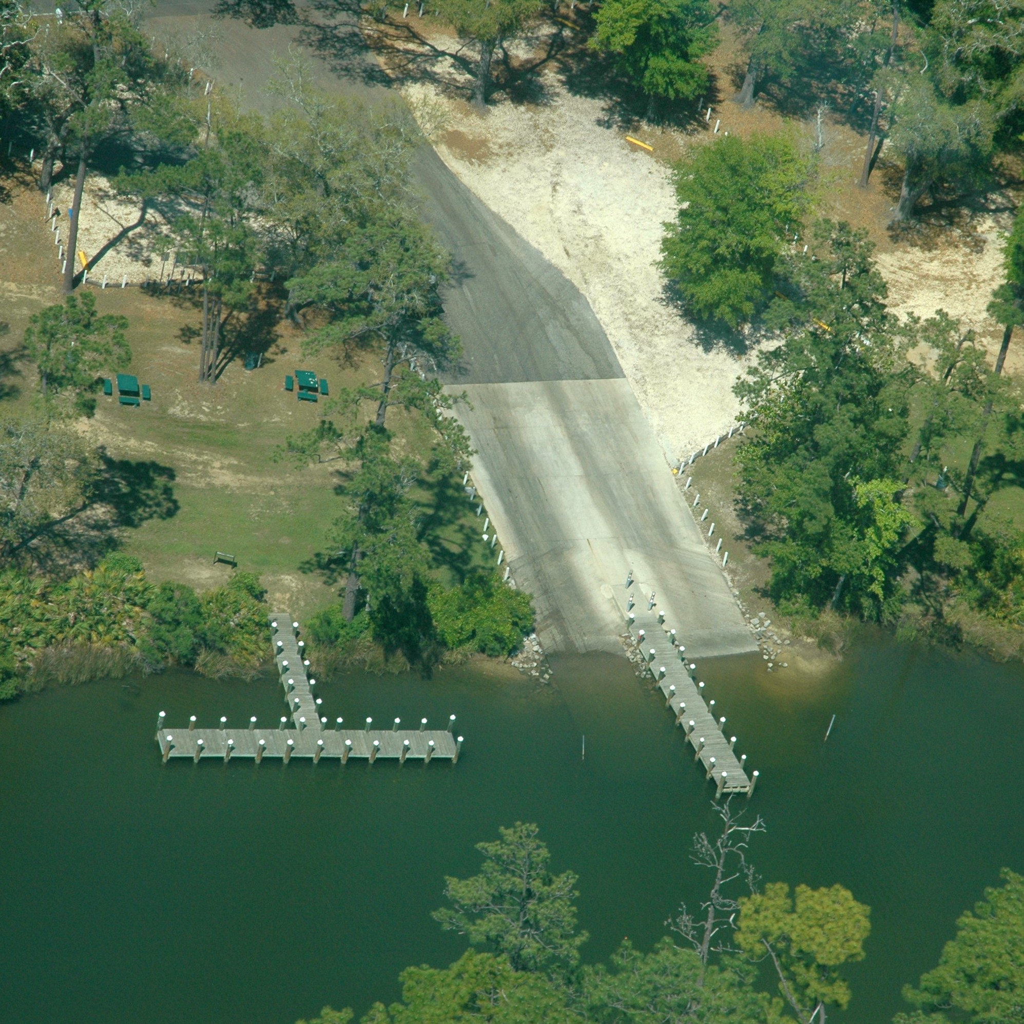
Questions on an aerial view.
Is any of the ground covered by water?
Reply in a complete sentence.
Yes, the picture does contain water.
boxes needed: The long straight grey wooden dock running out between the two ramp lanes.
[625,612,758,801]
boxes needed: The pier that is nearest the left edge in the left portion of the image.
[156,613,463,766]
